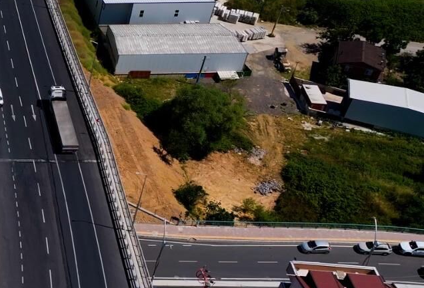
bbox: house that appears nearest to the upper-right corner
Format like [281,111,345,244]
[330,37,386,83]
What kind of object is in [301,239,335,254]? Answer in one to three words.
car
